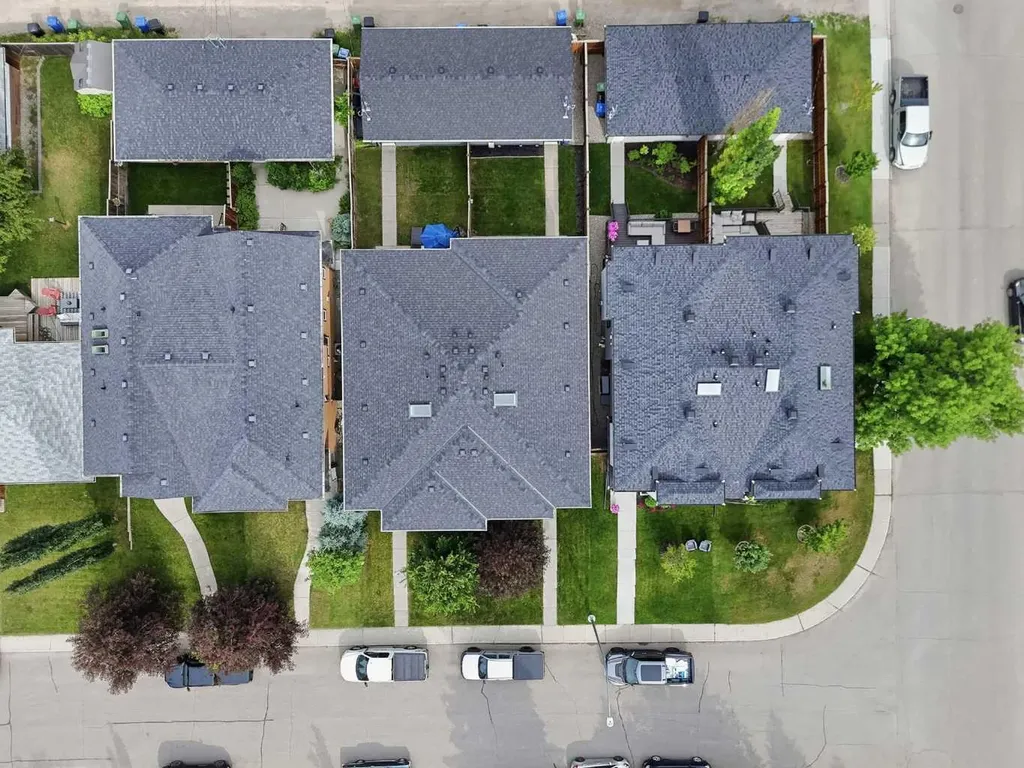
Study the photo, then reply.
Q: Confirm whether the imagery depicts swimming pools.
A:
No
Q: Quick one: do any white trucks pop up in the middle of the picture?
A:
No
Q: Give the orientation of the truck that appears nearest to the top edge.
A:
up and down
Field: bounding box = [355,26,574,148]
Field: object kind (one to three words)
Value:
building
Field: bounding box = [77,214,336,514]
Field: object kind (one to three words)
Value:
house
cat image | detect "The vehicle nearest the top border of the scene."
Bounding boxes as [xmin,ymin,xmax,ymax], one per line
[892,76,938,169]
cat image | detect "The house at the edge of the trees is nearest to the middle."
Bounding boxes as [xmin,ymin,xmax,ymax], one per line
[339,235,592,532]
